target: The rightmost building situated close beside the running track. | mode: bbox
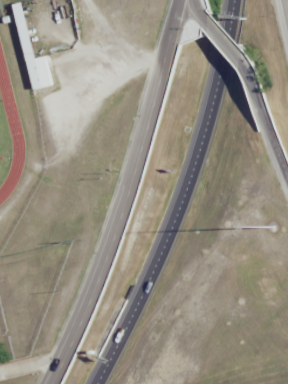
[12,2,55,89]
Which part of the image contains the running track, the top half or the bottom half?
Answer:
top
